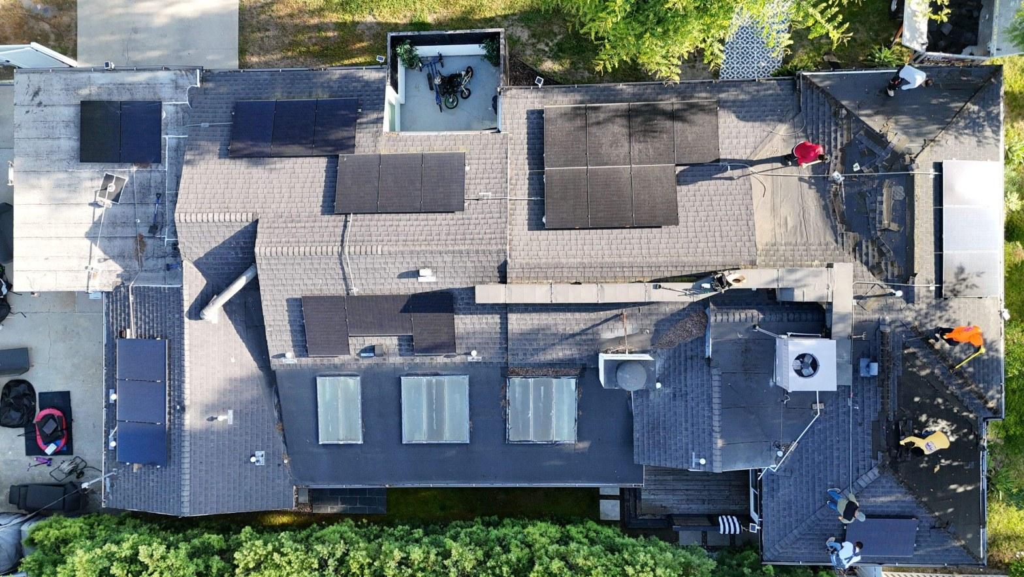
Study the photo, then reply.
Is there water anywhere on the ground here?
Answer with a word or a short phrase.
No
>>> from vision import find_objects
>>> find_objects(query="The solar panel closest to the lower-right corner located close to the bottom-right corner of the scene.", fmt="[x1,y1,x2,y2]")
[845,517,918,556]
